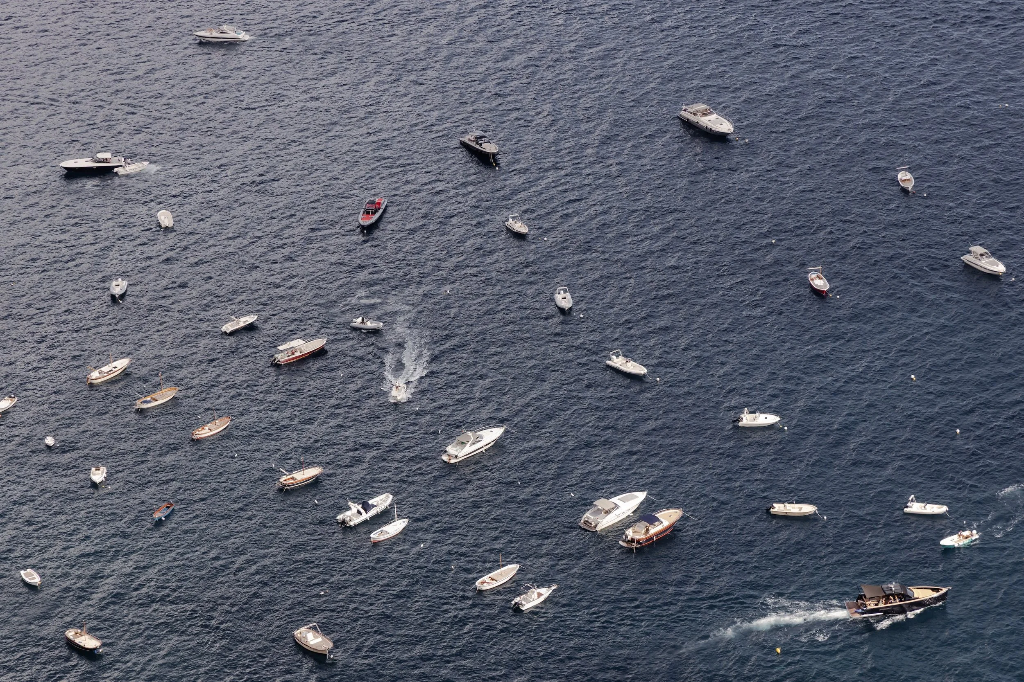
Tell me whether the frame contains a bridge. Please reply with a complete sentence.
No, the frame has no bridge in it.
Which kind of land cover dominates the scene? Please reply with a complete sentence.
The bulk of the photo consists of water.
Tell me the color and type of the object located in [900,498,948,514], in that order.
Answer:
white boat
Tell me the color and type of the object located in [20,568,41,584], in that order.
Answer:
white boat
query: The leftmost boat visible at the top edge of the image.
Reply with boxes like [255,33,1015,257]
[194,25,249,42]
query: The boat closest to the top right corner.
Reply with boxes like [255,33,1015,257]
[898,164,913,191]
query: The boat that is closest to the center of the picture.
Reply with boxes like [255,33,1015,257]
[555,286,574,314]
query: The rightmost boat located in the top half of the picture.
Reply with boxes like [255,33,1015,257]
[961,247,1006,276]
